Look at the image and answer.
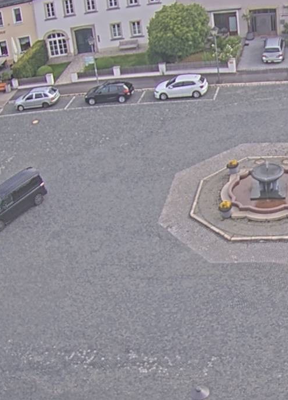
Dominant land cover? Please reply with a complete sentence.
Most of the picture is covered by paved ground.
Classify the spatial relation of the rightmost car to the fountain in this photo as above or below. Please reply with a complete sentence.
In the image, the rightmost car sits above the fountain.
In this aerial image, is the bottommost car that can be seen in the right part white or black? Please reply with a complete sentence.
The color of the bottommost car that can be seen in the right part is white.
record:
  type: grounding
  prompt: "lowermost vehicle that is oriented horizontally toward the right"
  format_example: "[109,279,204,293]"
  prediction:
[154,72,209,100]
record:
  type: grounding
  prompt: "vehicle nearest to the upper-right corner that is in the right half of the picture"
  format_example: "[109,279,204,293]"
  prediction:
[258,36,283,64]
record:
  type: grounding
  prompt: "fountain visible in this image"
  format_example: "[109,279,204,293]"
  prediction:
[215,157,288,225]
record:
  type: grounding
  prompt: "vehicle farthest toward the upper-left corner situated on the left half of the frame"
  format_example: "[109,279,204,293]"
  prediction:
[11,83,61,111]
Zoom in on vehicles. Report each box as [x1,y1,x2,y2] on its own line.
[0,170,45,230]
[258,36,283,64]
[154,72,209,100]
[83,77,134,104]
[11,83,61,111]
